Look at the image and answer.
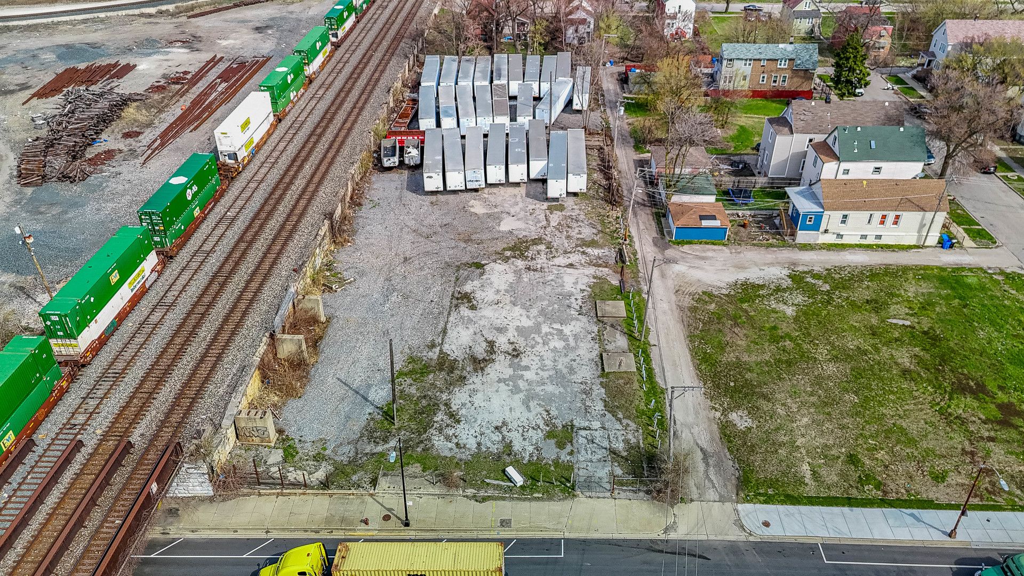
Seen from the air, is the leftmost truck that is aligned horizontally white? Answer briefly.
No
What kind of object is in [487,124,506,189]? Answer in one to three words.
trailer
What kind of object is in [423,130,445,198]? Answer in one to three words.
trailer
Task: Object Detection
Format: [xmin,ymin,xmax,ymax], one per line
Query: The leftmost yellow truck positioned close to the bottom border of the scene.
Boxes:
[262,544,335,576]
